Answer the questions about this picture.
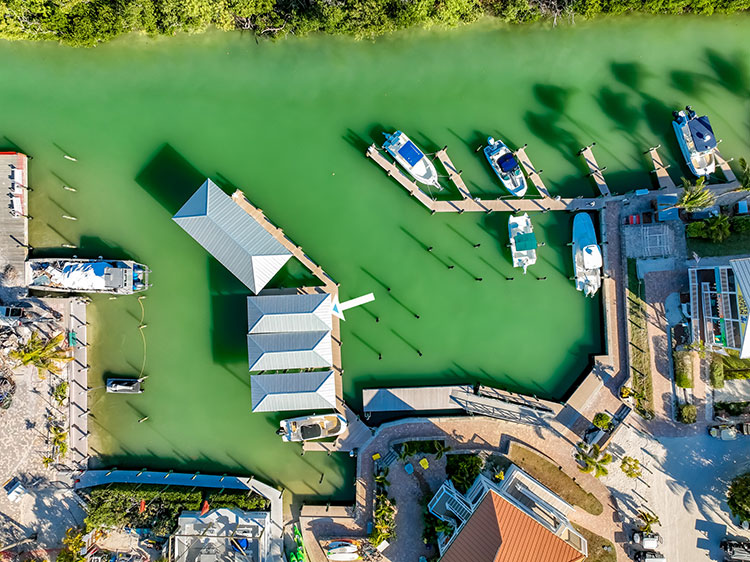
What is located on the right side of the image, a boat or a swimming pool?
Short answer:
boat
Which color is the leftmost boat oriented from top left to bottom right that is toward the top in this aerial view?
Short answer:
white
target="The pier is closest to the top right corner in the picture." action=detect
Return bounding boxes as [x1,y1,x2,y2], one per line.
[711,139,738,182]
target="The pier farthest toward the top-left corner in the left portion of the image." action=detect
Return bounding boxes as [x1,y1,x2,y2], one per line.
[0,151,40,297]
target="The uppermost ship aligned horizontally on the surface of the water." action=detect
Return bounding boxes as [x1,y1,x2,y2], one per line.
[29,256,152,294]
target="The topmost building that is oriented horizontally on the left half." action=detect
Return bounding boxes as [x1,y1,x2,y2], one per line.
[247,293,332,334]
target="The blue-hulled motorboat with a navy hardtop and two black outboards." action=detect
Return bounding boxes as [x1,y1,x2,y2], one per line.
[669,106,722,180]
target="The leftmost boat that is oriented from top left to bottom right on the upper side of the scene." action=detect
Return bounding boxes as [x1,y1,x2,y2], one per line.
[385,130,441,188]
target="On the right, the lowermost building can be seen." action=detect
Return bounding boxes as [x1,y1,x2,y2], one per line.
[426,458,593,562]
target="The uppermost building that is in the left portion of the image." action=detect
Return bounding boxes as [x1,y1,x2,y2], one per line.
[171,178,292,295]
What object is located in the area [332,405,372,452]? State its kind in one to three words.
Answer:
pier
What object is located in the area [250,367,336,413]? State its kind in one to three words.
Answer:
building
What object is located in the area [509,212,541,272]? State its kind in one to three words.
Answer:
boat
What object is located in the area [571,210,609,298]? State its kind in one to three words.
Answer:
boat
